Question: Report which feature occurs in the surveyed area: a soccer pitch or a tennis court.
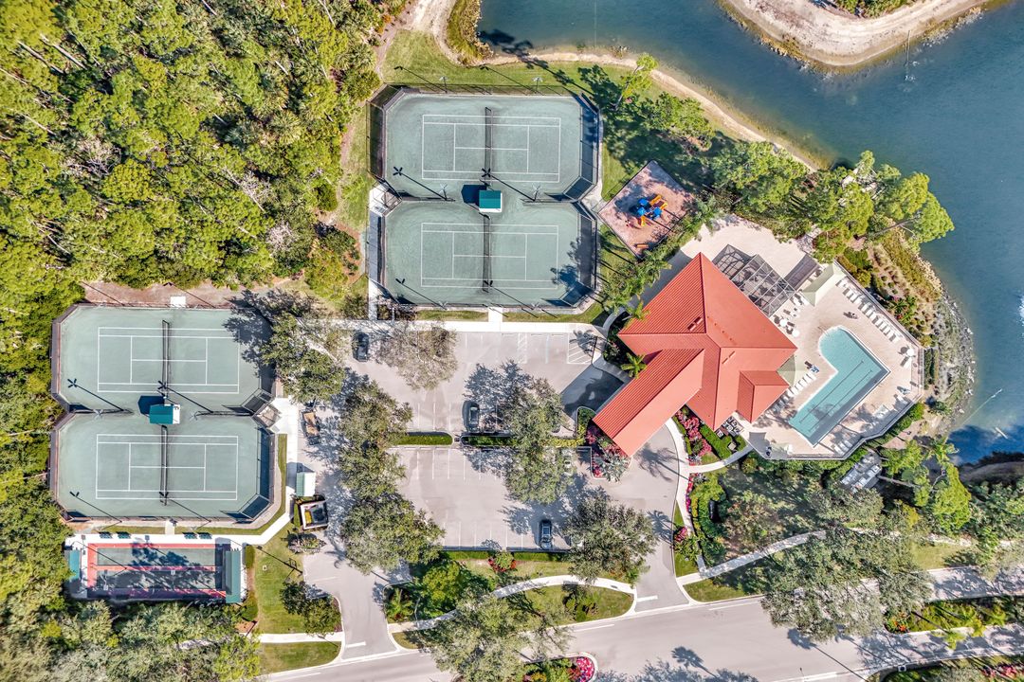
tennis court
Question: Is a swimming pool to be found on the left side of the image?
No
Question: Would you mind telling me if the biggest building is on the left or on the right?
right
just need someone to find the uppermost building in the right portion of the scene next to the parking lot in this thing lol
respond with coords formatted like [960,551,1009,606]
[592,251,798,457]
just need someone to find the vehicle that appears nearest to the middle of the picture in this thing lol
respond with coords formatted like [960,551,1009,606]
[467,402,480,430]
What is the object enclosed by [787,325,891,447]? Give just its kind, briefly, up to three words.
swimming pool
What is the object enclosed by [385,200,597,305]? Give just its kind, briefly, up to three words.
tennis court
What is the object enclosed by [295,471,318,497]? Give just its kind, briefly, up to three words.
shed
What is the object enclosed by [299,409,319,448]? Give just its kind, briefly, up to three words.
vehicle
